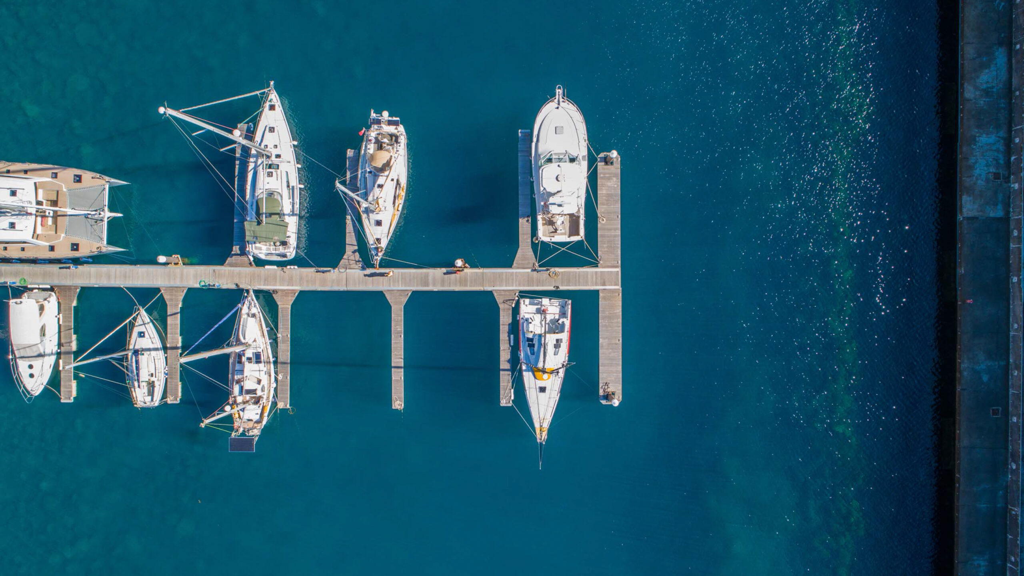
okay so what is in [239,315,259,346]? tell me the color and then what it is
white boat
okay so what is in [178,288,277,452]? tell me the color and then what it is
white boat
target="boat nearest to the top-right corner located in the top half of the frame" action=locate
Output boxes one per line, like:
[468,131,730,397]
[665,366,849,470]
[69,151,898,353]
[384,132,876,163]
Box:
[531,82,589,243]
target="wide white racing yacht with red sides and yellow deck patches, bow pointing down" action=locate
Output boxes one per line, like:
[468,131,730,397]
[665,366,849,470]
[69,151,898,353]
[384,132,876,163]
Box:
[518,298,576,469]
